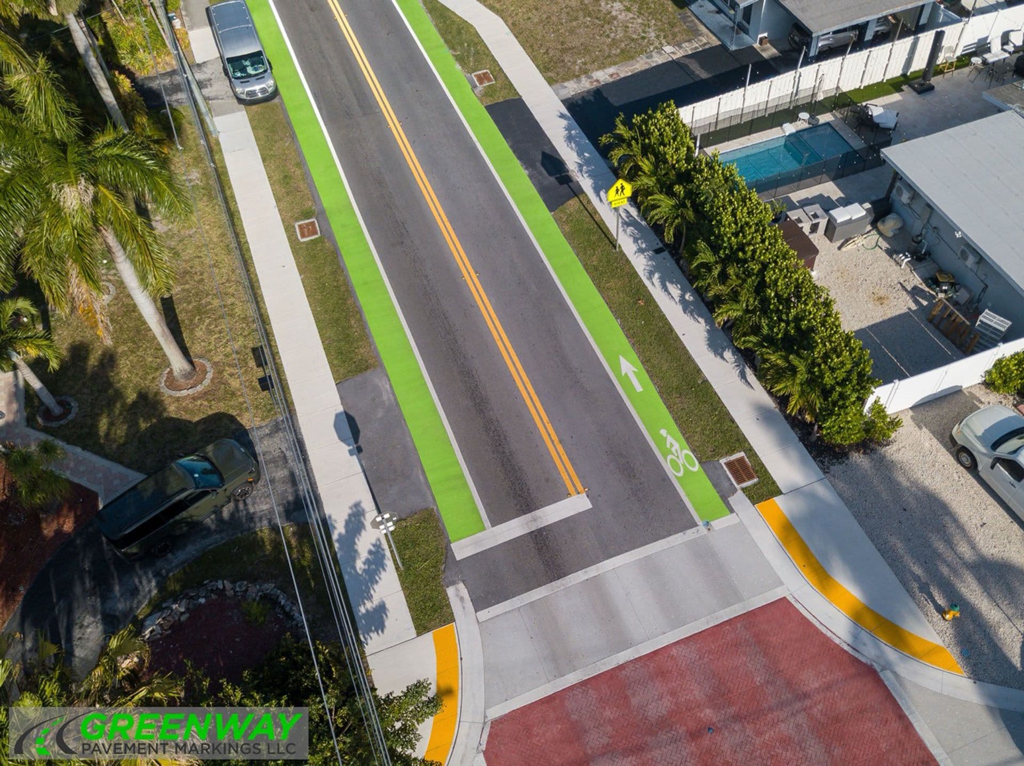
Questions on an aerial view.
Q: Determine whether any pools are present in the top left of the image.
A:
No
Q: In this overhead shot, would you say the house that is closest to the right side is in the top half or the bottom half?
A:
top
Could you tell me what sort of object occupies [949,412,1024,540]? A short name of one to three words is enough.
truck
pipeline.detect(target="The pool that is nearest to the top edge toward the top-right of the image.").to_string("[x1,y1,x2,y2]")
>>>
[712,114,877,200]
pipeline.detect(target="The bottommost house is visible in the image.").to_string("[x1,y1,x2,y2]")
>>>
[865,78,1024,341]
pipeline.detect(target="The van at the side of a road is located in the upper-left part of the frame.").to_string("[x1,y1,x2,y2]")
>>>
[211,0,279,103]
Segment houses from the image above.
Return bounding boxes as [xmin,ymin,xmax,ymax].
[865,78,1024,341]
[683,0,938,74]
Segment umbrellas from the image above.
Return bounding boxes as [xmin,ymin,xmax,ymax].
[910,31,950,92]
[808,75,828,123]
